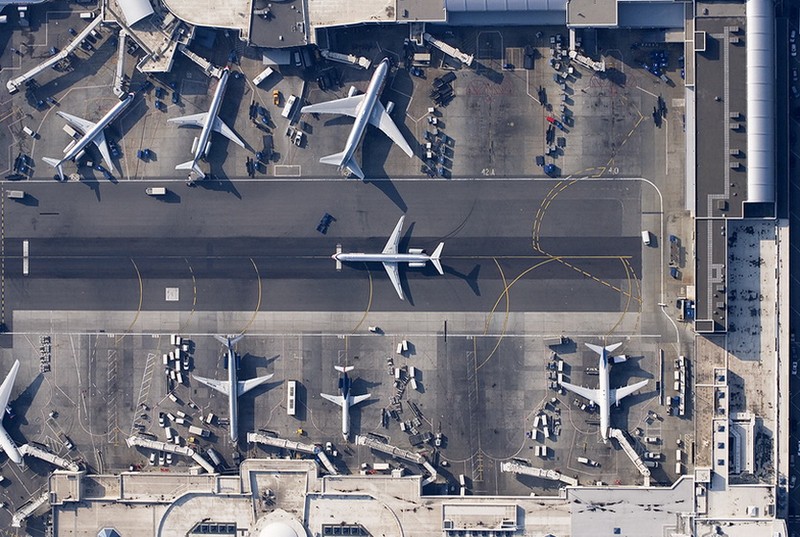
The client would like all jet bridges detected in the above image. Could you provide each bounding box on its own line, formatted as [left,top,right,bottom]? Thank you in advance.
[607,427,651,487]
[177,42,228,82]
[354,434,440,487]
[123,434,214,474]
[567,27,610,72]
[112,28,130,98]
[497,460,578,486]
[15,443,80,472]
[320,48,374,70]
[423,31,477,71]
[243,430,337,475]
[5,11,104,95]
[9,491,51,532]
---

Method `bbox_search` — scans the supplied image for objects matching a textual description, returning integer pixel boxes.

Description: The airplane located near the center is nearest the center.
[332,217,445,299]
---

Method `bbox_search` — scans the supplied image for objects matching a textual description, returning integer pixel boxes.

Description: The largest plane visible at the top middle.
[302,58,413,180]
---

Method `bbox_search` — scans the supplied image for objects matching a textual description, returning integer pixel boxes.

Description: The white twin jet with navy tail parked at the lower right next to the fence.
[562,344,649,443]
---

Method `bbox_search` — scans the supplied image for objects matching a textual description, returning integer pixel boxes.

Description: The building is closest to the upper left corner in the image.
[103,0,196,73]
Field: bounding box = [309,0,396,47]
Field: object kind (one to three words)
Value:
building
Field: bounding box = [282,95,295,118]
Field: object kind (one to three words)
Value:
vehicle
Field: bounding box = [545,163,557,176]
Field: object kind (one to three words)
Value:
vehicle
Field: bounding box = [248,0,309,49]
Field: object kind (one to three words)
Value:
building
